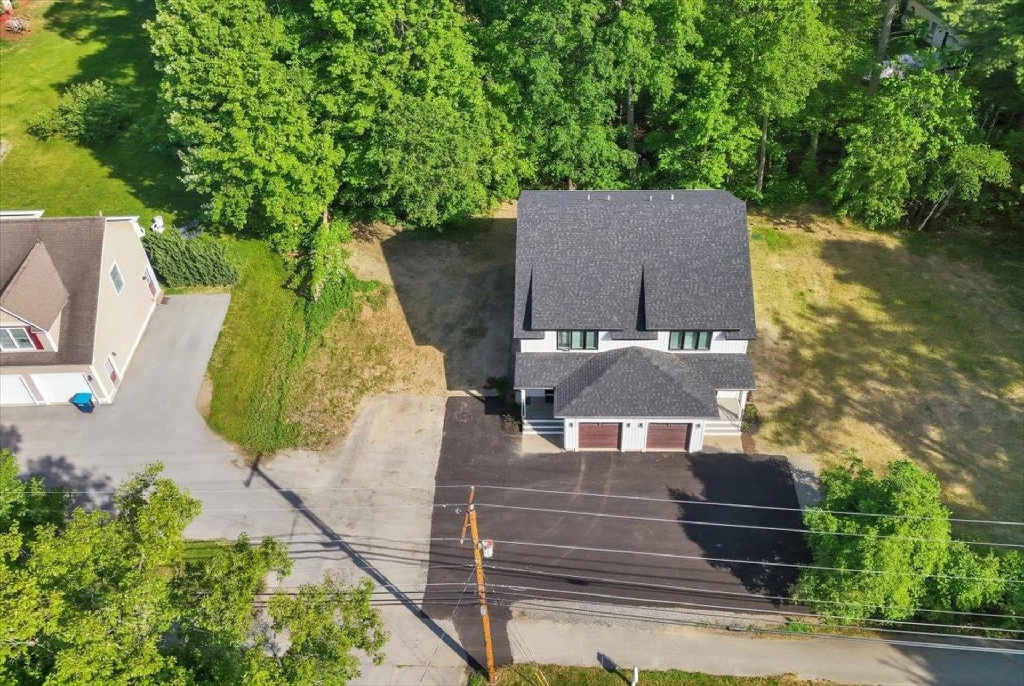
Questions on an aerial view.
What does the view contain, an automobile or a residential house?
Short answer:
residential house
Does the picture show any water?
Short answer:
No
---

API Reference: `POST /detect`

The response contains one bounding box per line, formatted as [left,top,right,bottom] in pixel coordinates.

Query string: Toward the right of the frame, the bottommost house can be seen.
[513,188,758,456]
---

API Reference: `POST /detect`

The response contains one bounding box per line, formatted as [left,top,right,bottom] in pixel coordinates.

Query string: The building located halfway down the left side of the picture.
[0,209,174,407]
